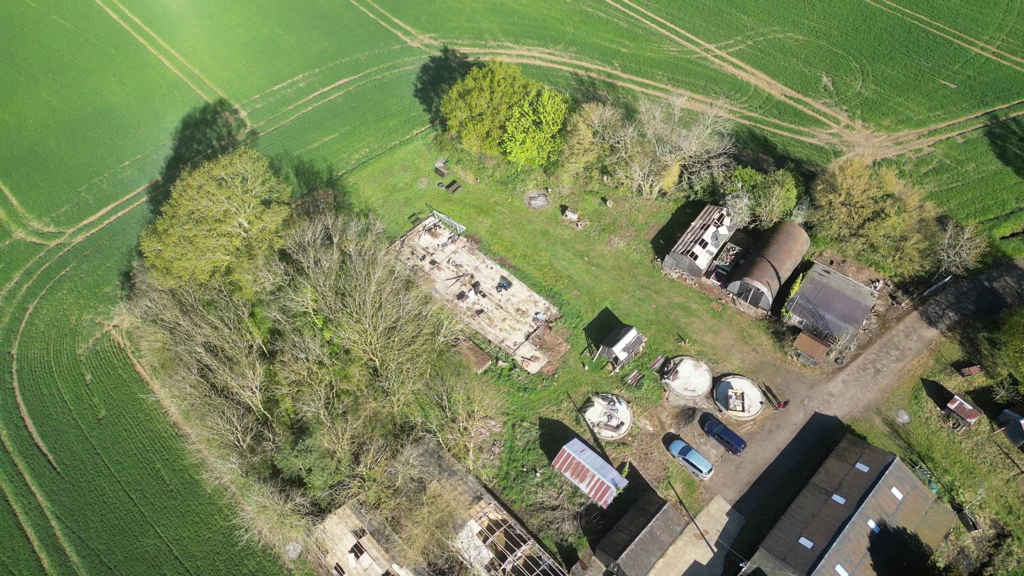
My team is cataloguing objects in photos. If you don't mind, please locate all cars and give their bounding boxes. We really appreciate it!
[704,418,751,461]
[668,439,717,484]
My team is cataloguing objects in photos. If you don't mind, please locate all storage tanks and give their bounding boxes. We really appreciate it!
[662,356,712,403]
[583,393,634,443]
[712,374,764,423]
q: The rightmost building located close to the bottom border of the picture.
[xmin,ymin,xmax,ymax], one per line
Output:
[723,432,956,576]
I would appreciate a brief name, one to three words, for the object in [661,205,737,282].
shed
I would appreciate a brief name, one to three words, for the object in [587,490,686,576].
barn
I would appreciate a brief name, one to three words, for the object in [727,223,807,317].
shed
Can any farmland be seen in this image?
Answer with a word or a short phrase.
Yes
